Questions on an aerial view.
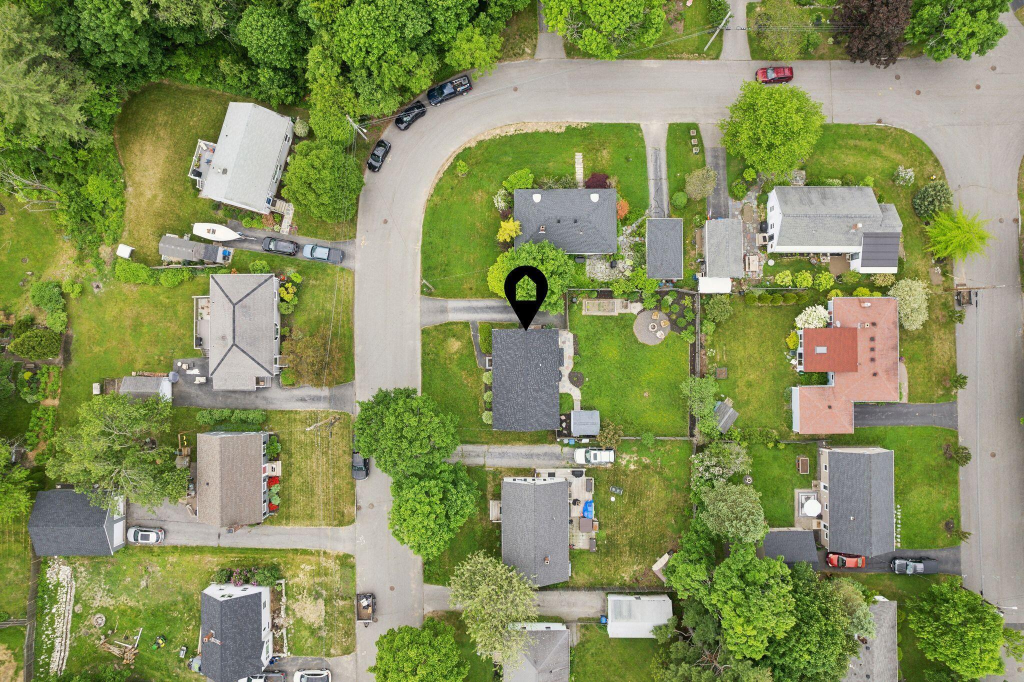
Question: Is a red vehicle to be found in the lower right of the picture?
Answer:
Yes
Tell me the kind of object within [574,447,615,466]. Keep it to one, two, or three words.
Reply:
car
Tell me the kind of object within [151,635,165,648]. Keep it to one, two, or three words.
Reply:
vehicle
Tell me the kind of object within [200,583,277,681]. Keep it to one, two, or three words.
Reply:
house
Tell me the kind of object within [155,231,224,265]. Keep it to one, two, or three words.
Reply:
shed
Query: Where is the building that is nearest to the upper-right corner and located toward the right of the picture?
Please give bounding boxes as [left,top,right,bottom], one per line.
[753,186,911,274]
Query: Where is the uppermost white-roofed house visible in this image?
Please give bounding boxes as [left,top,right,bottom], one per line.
[201,100,295,216]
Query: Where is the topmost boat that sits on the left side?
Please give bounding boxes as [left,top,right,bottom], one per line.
[191,222,245,241]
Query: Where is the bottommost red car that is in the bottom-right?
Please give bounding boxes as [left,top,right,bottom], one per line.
[825,552,867,571]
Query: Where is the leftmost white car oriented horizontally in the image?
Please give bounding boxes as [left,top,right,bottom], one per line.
[126,526,166,545]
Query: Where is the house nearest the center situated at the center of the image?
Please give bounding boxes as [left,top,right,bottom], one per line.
[484,328,565,433]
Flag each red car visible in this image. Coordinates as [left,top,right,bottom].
[755,64,795,84]
[825,552,867,571]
